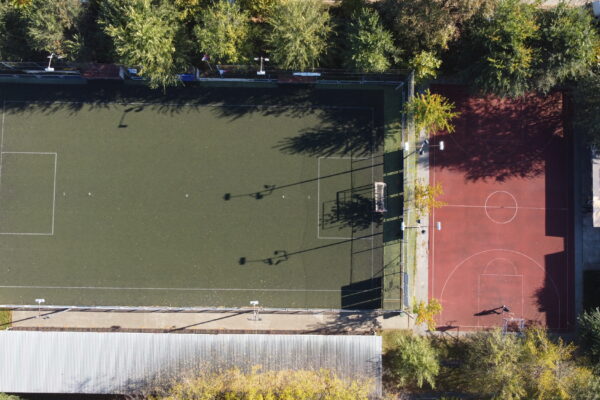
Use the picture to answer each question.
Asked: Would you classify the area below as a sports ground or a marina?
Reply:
sports ground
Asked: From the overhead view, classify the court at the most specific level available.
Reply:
basketball court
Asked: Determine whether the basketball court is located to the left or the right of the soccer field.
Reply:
right of it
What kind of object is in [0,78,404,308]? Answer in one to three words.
soccer field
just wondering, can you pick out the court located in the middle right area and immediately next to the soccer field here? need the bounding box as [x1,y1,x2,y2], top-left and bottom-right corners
[428,88,574,331]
